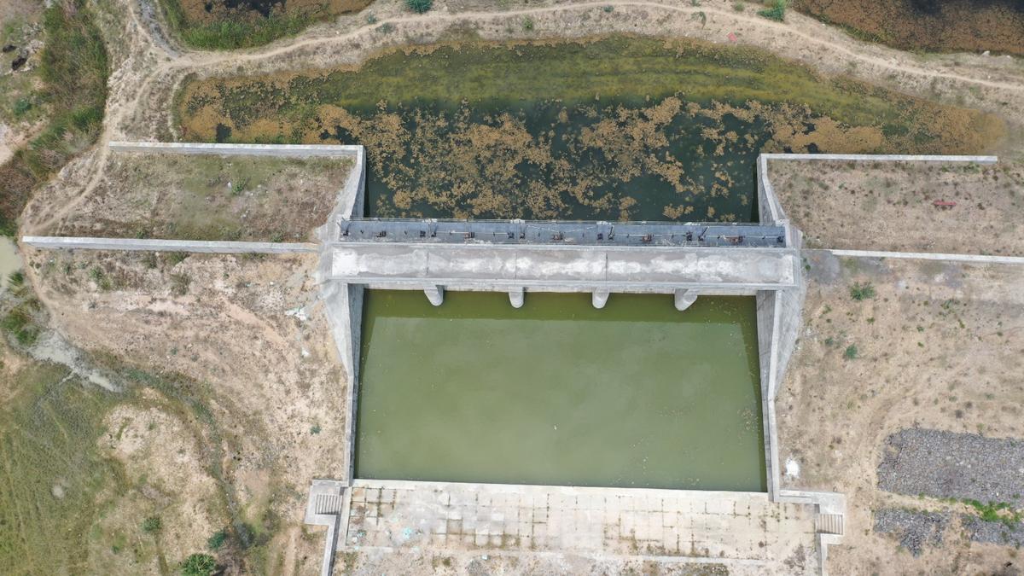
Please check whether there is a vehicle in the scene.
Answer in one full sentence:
No, I find no vehicle anywhere in the image.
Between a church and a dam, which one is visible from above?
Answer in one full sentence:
The one in the frame is a dam.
